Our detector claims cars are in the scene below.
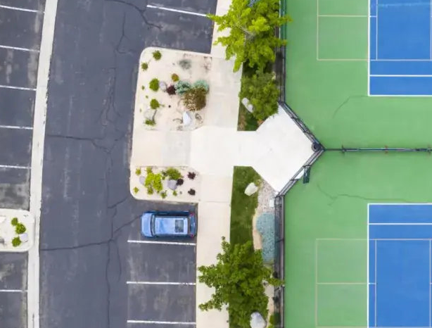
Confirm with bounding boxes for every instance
[142,208,200,240]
